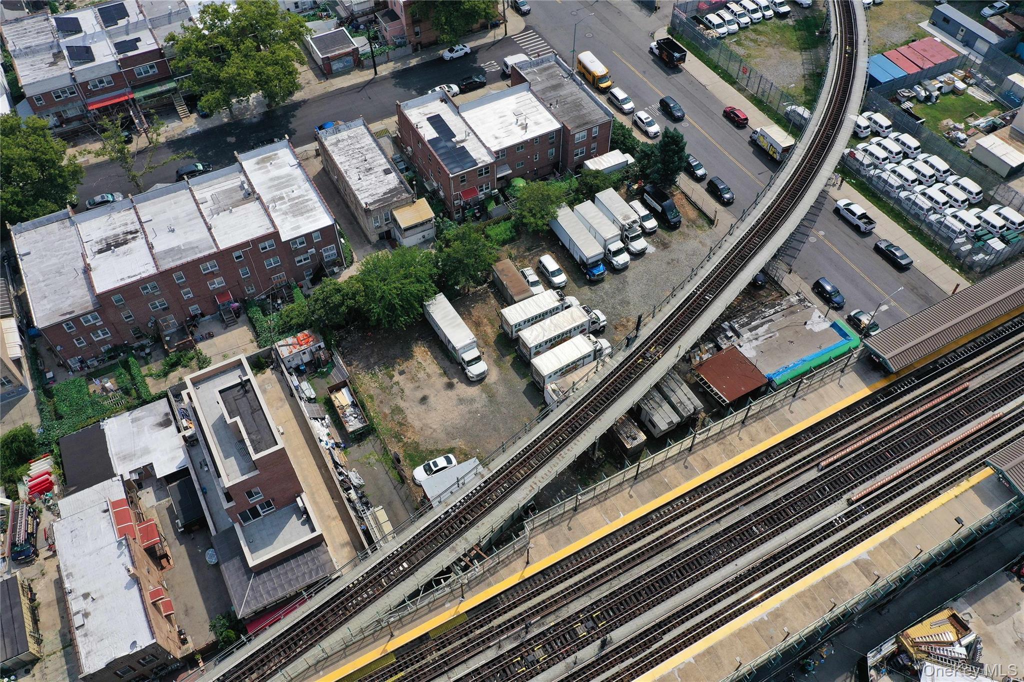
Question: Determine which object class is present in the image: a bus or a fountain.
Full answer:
It is a bus that can be seen here.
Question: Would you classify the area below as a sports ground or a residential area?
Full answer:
The picture captures a residential area.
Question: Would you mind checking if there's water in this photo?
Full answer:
No, no water is visible.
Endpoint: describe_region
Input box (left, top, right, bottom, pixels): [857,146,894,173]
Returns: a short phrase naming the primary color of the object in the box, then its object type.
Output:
white vehicle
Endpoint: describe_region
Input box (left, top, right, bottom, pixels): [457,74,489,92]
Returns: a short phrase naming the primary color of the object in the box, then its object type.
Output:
black car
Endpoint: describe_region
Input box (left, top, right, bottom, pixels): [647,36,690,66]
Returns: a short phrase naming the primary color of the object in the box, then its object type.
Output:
black truck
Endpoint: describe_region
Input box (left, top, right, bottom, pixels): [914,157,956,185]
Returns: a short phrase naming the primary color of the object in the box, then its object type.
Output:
white van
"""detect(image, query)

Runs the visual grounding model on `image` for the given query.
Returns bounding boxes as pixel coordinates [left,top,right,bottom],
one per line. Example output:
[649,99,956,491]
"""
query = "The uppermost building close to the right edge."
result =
[928,3,1003,58]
